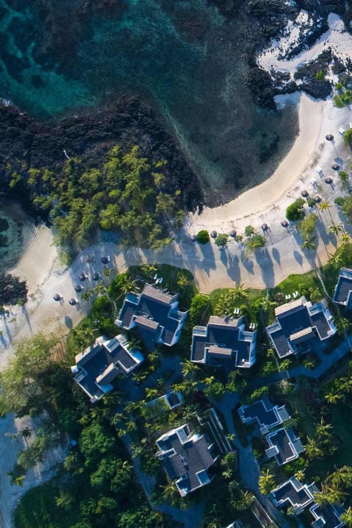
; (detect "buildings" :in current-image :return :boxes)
[265,425,306,466]
[265,296,339,360]
[271,474,321,515]
[310,496,346,528]
[153,419,218,497]
[164,390,185,410]
[115,287,192,352]
[76,334,153,405]
[242,395,291,435]
[188,313,260,369]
